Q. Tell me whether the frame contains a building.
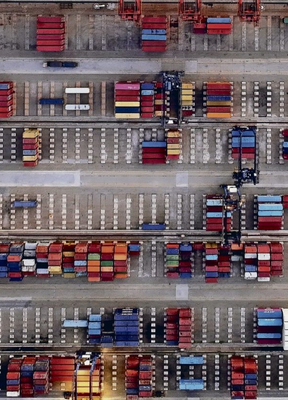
No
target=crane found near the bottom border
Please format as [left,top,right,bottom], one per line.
[71,348,103,400]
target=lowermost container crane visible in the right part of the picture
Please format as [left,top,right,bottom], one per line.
[215,184,246,249]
